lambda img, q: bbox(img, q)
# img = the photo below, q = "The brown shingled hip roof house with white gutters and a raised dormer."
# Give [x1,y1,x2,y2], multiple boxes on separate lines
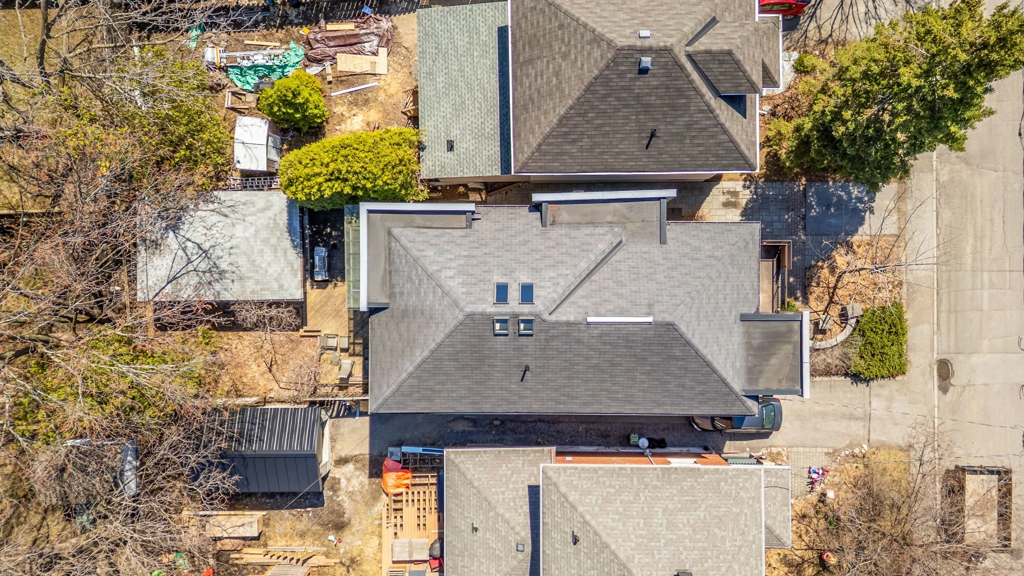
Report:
[506,0,783,181]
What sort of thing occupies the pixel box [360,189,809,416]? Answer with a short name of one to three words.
house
